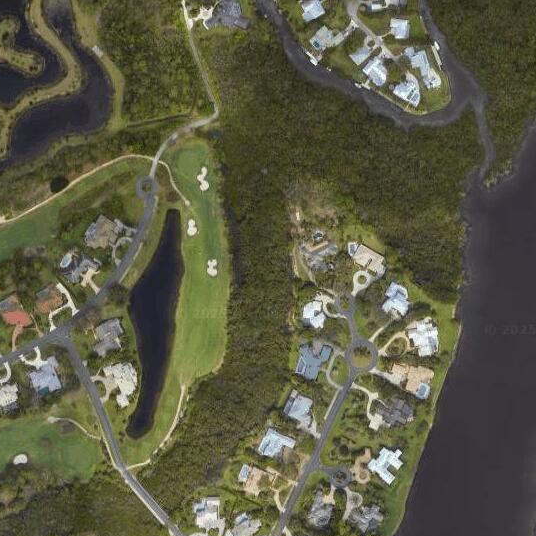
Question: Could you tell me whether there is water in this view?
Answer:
Yes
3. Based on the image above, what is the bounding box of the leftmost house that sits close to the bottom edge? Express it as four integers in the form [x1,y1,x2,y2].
[194,503,219,523]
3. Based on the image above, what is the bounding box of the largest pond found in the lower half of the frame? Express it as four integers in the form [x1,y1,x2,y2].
[127,209,184,438]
